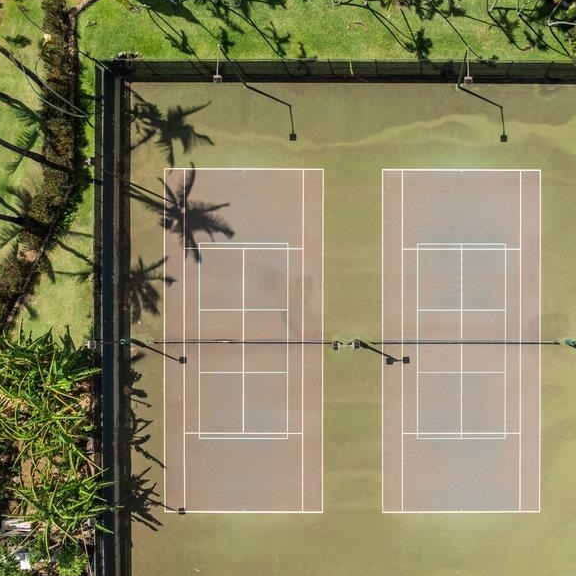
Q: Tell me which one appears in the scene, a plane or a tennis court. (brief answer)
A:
tennis court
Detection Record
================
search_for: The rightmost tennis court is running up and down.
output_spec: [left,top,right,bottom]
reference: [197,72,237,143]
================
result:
[382,169,541,513]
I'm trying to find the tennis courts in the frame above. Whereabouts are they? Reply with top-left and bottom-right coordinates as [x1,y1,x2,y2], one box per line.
[163,169,323,514]
[382,169,541,513]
